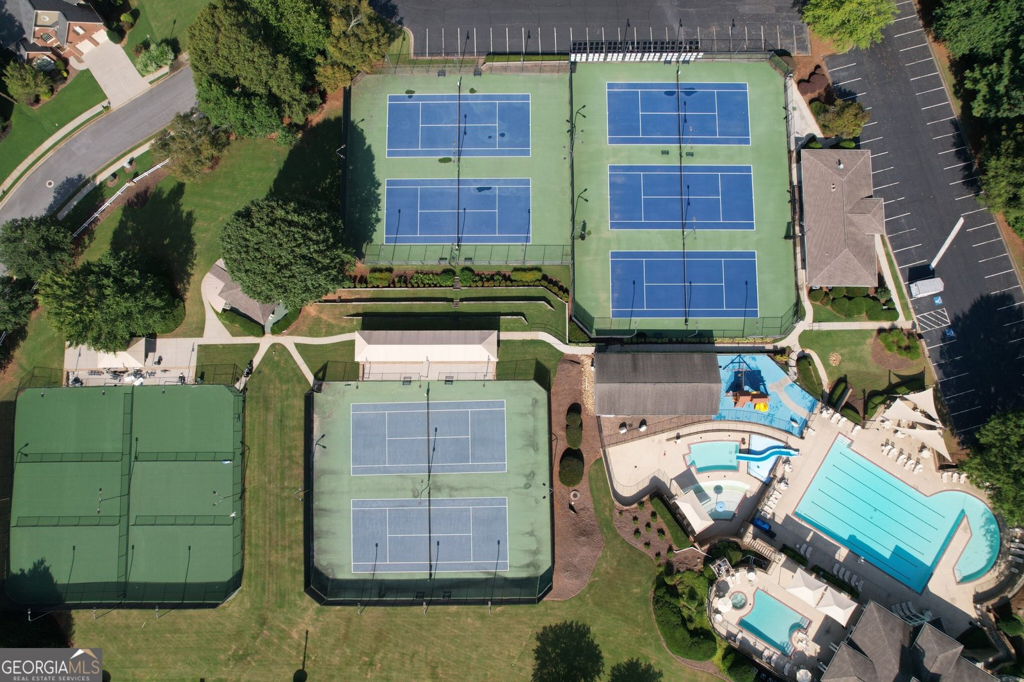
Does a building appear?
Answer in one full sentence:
Yes, a building is visible in the scene.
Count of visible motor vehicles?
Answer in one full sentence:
In total, 1 motor vehicle can be seen.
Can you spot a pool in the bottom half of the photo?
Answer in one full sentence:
Yes, I can see a pool in the bottom half of the photo.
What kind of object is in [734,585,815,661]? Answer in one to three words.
swimming pool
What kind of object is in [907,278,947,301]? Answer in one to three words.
truck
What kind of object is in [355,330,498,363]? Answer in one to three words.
building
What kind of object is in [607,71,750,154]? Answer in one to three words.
tennis court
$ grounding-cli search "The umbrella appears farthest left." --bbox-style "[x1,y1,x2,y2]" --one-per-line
[716,596,733,613]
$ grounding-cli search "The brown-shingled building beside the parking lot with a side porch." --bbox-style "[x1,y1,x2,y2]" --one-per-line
[799,149,885,288]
